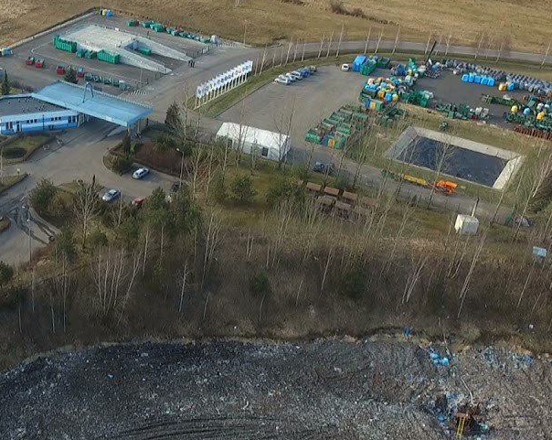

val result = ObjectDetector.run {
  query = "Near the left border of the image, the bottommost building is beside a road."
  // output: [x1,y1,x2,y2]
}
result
[0,94,87,135]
